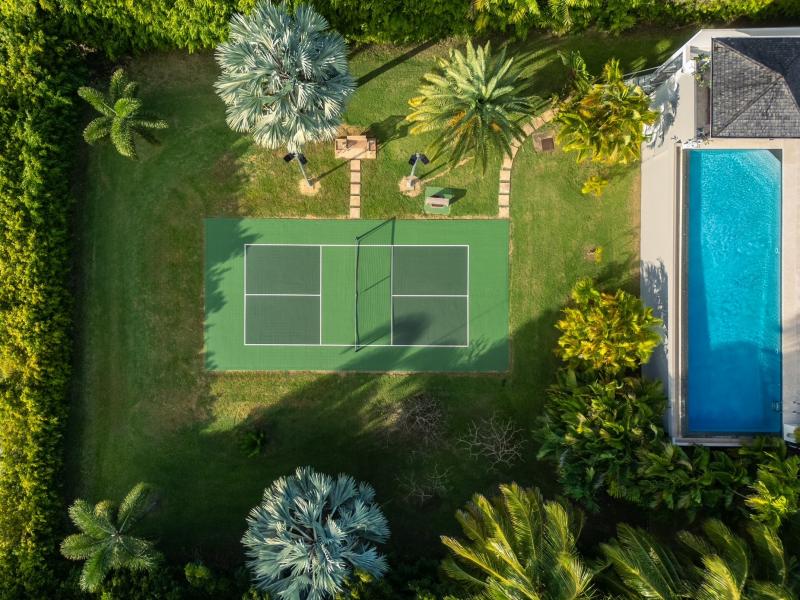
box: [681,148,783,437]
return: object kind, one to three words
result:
swimming pool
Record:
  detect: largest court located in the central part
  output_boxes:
[204,219,509,372]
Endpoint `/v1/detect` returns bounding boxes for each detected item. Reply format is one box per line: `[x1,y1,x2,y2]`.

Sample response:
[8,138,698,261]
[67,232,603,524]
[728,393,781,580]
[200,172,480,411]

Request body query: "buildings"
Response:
[710,36,800,138]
